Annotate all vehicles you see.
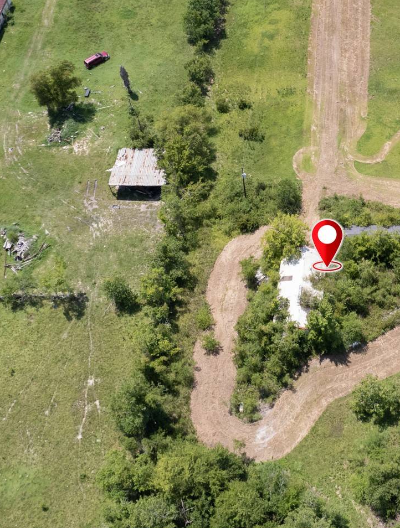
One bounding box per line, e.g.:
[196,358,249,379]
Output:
[83,53,110,70]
